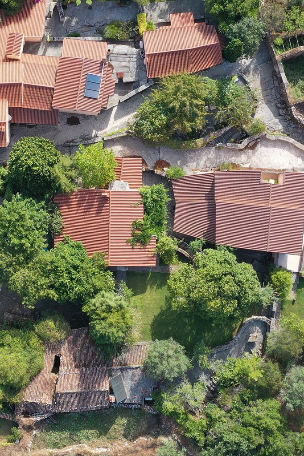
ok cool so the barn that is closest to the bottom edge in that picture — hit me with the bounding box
[10,326,155,418]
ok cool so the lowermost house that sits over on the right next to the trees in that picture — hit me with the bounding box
[168,170,304,273]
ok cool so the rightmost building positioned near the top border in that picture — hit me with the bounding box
[139,11,227,80]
